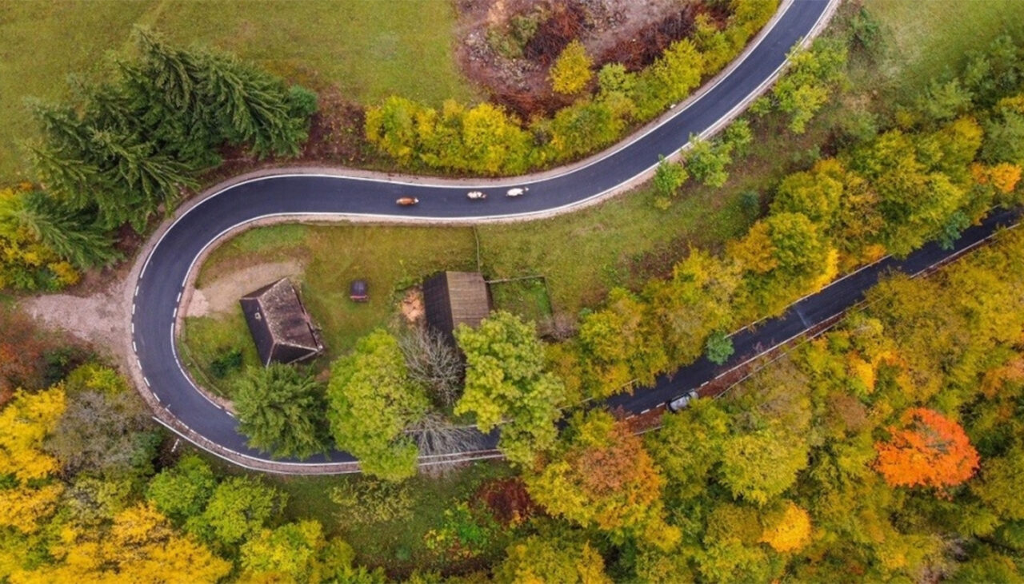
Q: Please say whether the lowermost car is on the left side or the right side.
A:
right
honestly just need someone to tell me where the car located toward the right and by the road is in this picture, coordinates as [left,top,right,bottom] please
[665,390,696,413]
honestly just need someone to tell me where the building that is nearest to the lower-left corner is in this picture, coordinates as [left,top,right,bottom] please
[238,278,318,370]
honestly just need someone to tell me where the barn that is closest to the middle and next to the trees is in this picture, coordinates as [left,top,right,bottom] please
[423,270,491,355]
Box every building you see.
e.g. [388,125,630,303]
[423,270,491,355]
[238,278,318,370]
